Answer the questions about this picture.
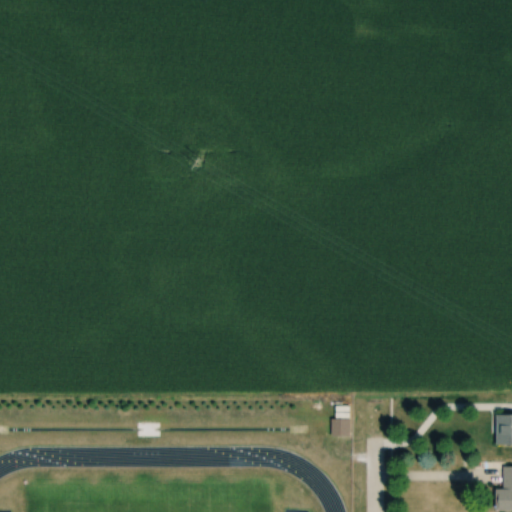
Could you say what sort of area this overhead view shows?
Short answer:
farmland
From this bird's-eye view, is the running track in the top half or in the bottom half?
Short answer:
bottom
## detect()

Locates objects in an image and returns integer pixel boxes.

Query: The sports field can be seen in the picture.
[20,470,286,512]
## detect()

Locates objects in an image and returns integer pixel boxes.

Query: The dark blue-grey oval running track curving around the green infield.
[0,448,345,512]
